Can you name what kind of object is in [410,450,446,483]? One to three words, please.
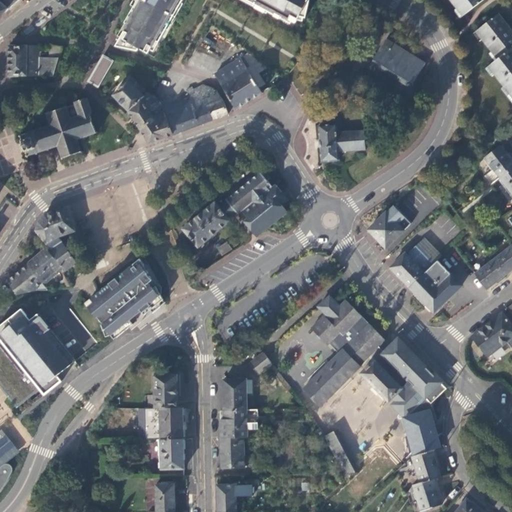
house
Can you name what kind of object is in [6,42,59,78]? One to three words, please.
house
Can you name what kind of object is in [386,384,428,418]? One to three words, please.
building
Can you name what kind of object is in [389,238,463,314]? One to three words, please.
building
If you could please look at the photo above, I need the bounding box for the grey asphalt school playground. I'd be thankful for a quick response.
[279,312,335,385]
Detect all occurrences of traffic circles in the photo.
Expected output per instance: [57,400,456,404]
[306,196,354,244]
